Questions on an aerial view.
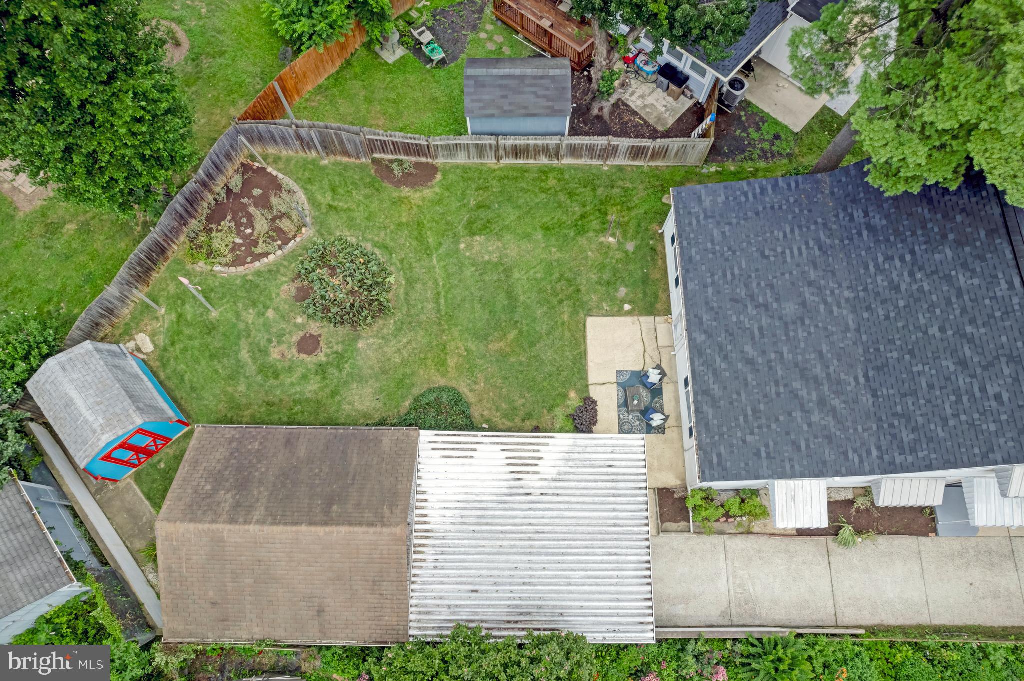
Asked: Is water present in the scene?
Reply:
No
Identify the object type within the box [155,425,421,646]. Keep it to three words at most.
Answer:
building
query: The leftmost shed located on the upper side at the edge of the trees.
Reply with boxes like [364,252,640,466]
[463,58,574,146]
